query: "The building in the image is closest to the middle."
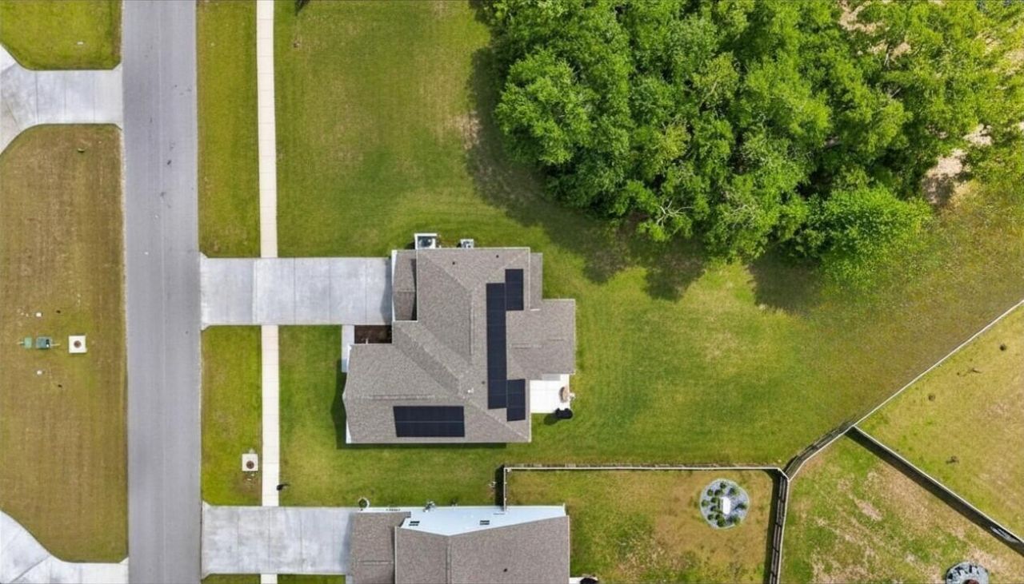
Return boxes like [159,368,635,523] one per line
[343,247,576,444]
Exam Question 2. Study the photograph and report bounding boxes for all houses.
[352,506,570,584]
[343,247,576,444]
